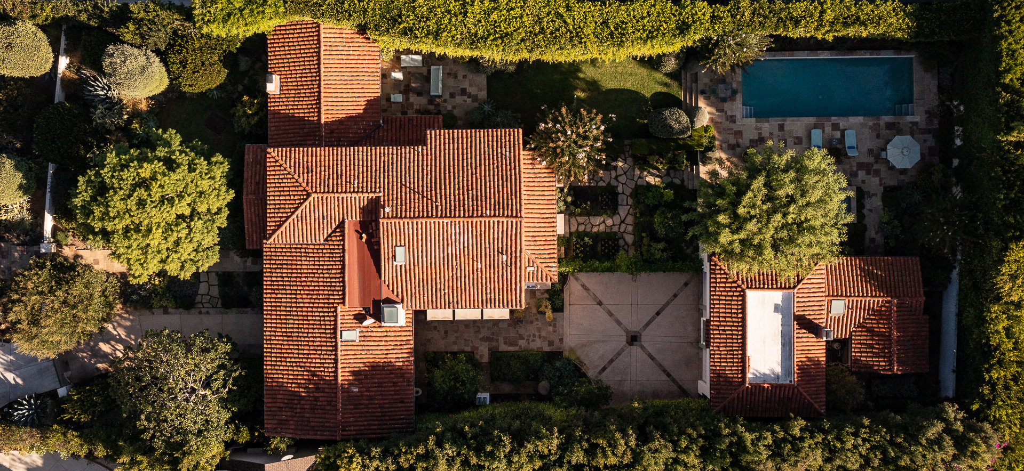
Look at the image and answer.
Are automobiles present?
No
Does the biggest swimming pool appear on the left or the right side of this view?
right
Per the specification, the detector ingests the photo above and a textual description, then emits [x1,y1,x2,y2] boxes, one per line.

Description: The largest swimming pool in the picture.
[742,57,913,118]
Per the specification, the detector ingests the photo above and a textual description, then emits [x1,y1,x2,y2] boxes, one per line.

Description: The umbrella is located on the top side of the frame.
[880,136,917,169]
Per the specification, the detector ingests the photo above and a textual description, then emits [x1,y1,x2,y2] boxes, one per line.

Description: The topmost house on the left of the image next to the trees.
[243,17,564,442]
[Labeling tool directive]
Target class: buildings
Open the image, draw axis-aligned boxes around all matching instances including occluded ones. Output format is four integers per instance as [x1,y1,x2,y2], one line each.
[243,17,564,442]
[692,251,932,420]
